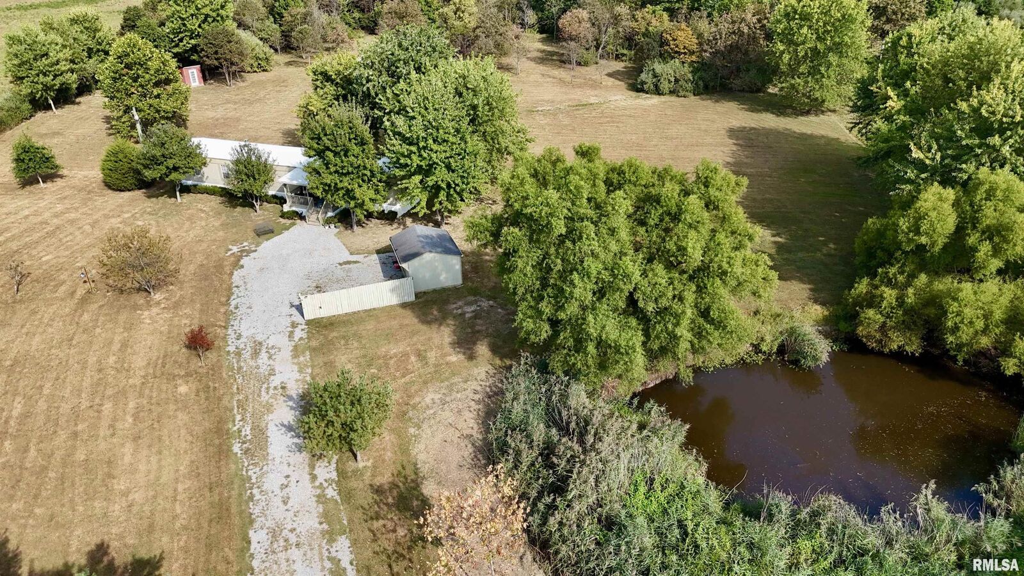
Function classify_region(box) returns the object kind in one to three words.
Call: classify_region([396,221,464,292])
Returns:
shed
